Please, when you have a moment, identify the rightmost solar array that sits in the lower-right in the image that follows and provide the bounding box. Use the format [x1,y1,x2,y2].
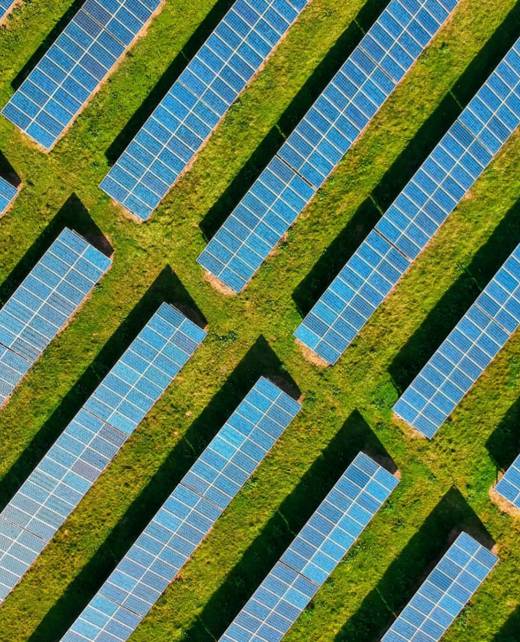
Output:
[496,456,520,507]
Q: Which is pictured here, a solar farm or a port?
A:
solar farm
